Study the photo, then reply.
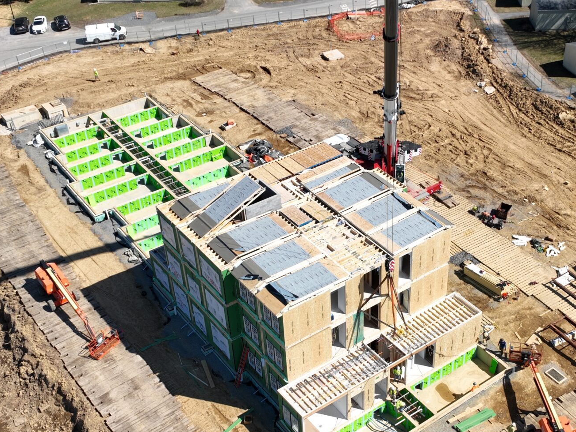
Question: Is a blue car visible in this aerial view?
No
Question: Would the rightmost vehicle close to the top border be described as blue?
No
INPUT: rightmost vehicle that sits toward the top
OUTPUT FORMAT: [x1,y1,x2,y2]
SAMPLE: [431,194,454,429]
[82,19,126,43]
